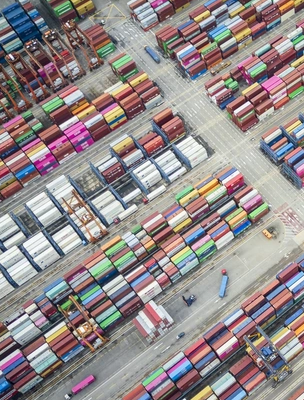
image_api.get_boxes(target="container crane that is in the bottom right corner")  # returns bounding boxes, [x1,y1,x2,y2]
[239,325,292,387]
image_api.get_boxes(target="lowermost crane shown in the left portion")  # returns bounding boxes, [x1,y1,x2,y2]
[55,294,110,353]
